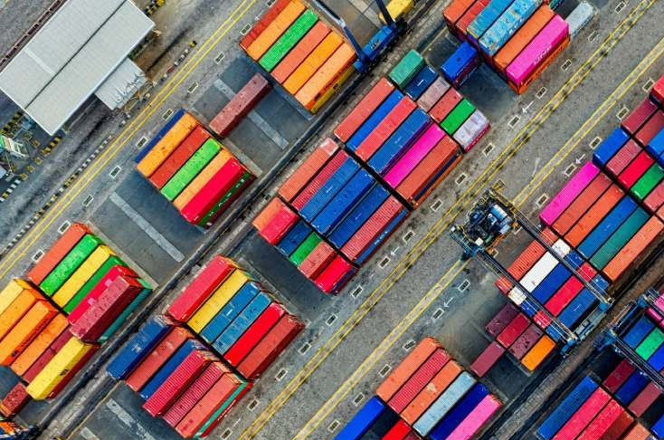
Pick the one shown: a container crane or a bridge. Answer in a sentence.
There is a container crane in the scene.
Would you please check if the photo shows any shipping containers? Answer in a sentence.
Yes, I can see a shipping container in this picture.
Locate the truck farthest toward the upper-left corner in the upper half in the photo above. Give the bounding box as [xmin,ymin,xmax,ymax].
[0,137,25,164]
